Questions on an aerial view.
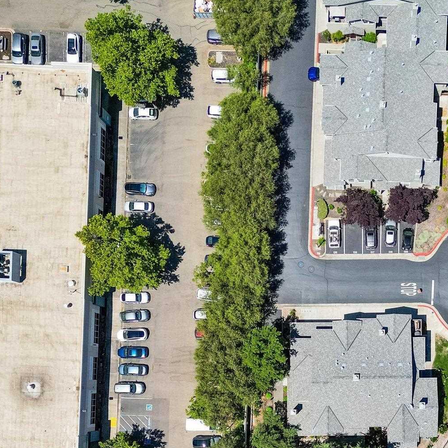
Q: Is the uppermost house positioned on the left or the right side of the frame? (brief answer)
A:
right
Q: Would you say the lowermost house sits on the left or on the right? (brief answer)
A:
right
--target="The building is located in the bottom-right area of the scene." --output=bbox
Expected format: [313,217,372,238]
[287,313,438,448]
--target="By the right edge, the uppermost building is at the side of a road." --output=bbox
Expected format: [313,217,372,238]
[320,0,448,192]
